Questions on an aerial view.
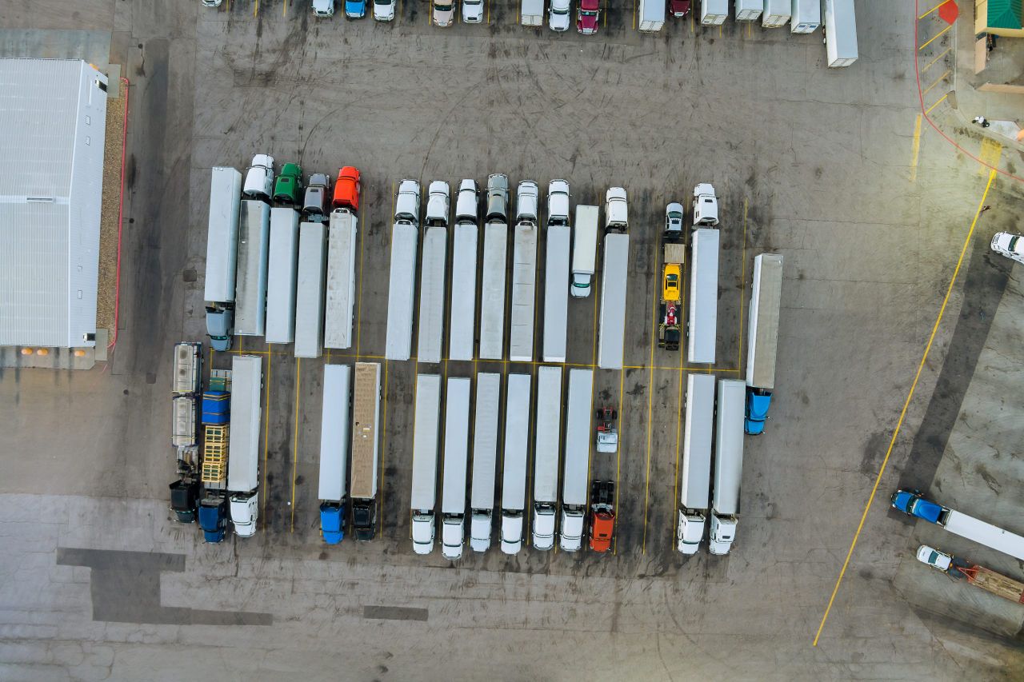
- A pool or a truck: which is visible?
truck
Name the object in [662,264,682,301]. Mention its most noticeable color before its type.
yellow car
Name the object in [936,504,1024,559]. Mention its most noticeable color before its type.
white trailer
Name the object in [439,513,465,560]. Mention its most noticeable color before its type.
white truck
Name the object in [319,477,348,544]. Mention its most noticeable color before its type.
blue truck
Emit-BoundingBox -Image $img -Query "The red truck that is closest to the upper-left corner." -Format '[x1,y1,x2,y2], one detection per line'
[333,167,360,229]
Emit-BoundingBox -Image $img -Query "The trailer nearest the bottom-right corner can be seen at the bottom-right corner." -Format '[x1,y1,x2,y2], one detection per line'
[957,564,1024,606]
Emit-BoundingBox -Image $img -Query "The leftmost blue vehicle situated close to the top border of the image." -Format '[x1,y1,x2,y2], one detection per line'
[342,0,367,20]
